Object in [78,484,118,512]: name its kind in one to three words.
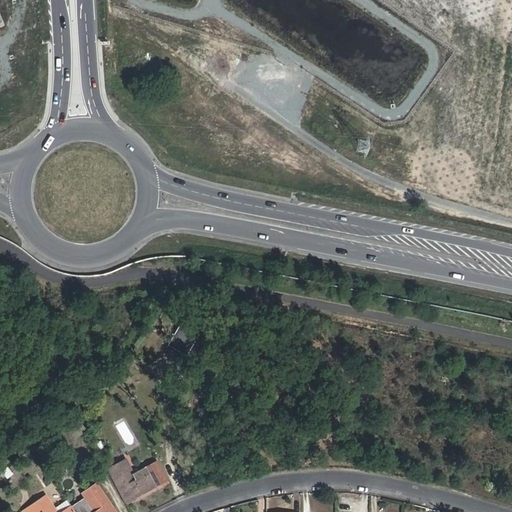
house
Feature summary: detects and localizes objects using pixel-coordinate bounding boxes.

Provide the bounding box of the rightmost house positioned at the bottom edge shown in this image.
[108,460,166,504]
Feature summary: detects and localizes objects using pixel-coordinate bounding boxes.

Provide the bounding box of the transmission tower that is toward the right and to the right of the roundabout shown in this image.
[356,136,372,154]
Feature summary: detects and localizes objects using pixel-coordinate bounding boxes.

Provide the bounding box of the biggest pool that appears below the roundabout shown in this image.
[114,418,140,454]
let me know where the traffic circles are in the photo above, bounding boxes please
[0,118,159,269]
